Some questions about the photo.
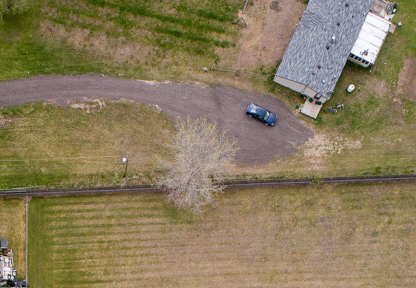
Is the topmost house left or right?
right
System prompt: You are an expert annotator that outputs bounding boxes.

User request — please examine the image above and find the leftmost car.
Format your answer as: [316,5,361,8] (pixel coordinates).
[246,99,280,125]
